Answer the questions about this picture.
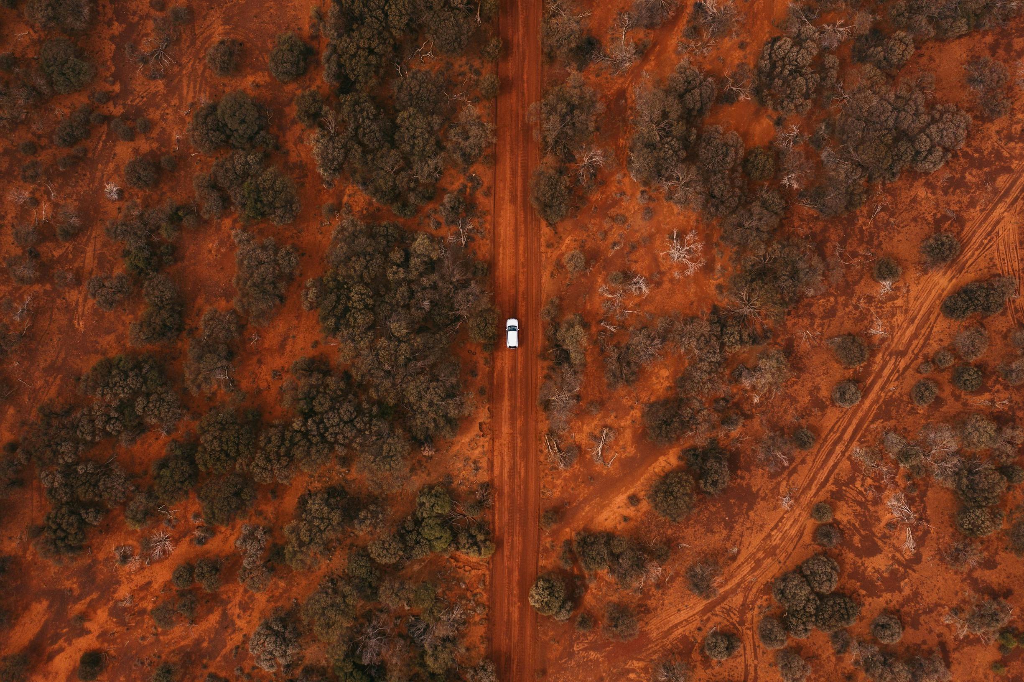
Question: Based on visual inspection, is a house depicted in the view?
No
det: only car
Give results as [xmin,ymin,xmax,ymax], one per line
[506,318,520,349]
